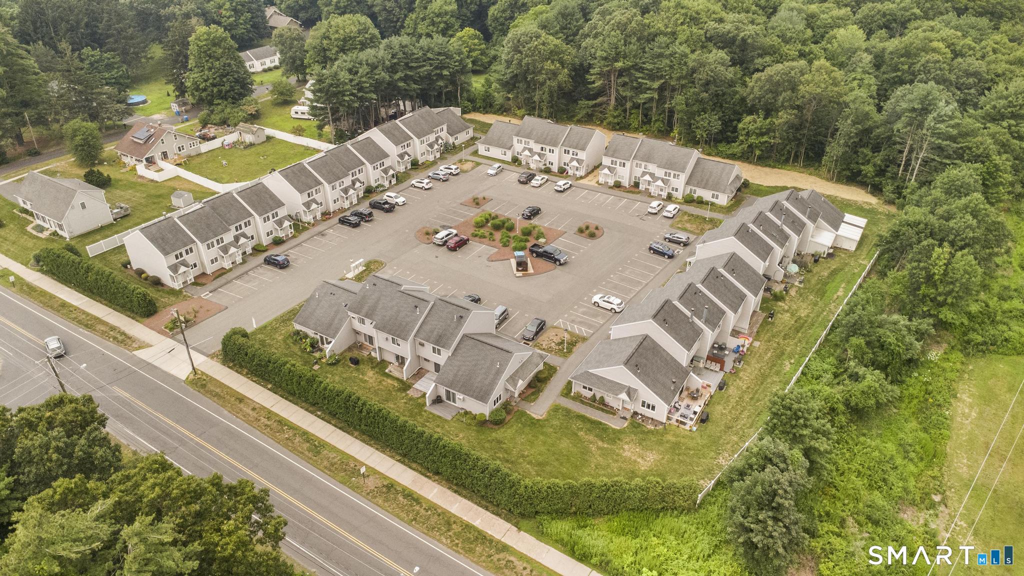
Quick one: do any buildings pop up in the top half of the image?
Yes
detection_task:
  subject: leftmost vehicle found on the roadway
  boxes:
[40,335,64,357]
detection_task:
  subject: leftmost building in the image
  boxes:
[11,173,118,239]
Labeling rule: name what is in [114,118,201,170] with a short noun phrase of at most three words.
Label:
house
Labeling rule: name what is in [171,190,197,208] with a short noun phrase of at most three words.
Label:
shed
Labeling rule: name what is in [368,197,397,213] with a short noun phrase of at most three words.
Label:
vehicle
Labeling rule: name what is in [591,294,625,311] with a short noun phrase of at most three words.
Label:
car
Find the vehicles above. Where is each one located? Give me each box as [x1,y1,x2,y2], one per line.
[426,169,450,182]
[336,213,362,228]
[646,199,665,213]
[40,335,64,357]
[261,252,290,268]
[433,229,458,245]
[409,177,433,190]
[529,175,550,186]
[382,190,408,205]
[553,179,573,192]
[646,240,677,258]
[445,234,470,250]
[519,316,548,340]
[591,294,625,311]
[661,203,680,218]
[368,197,397,213]
[531,245,568,264]
[520,205,543,219]
[485,163,505,175]
[460,291,482,303]
[348,207,375,222]
[437,163,461,175]
[516,170,537,183]
[494,303,510,320]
